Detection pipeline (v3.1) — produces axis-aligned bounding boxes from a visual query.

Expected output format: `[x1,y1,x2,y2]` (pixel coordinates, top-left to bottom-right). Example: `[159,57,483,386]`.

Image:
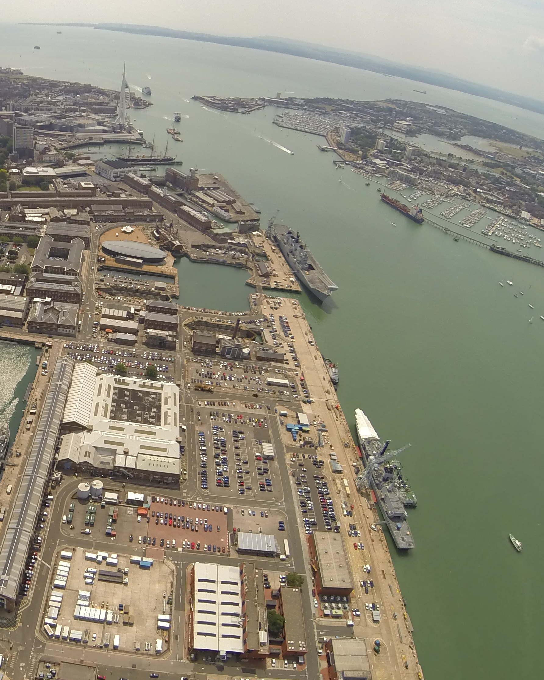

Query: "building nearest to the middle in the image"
[254,346,284,363]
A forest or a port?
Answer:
port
